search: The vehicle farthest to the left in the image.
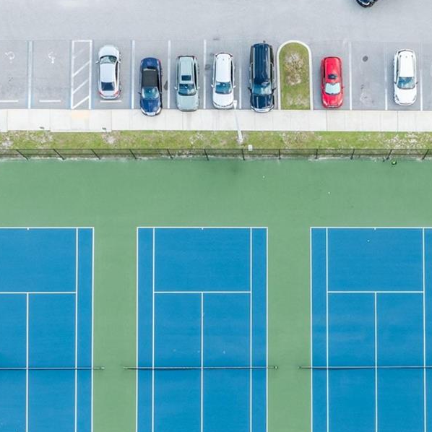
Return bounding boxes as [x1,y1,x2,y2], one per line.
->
[96,45,122,102]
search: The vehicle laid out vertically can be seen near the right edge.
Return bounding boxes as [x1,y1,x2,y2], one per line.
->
[393,47,420,107]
